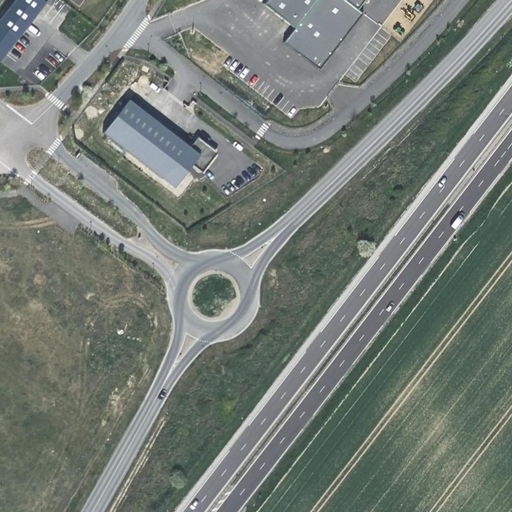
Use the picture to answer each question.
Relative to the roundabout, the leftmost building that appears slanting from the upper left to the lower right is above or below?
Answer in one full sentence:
The leftmost building that appears slanting from the upper left to the lower right is located above the roundabout in this view.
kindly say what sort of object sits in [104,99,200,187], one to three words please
building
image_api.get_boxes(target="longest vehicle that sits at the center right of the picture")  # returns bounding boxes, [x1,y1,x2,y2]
[452,212,466,228]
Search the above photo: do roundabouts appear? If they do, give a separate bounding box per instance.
[129,228,274,374]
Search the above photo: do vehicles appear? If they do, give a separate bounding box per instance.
[232,142,244,152]
[230,60,238,70]
[231,179,240,188]
[11,48,20,58]
[250,74,258,85]
[438,176,448,186]
[240,68,249,78]
[35,70,46,80]
[54,52,64,62]
[385,302,394,312]
[236,175,246,186]
[226,182,236,192]
[158,389,166,400]
[16,42,25,52]
[224,56,233,66]
[149,83,161,94]
[48,56,57,66]
[274,94,282,104]
[28,24,40,36]
[452,212,466,228]
[234,64,244,74]
[206,170,214,180]
[20,36,29,46]
[288,107,296,117]
[242,170,252,180]
[39,63,49,74]
[190,498,198,509]
[220,184,230,194]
